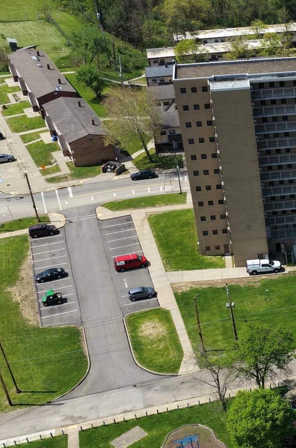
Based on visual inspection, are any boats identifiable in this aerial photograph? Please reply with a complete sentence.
No, the frame has no boat in it.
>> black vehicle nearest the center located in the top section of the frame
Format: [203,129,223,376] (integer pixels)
[129,168,156,181]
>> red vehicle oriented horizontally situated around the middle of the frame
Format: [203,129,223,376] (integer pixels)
[110,252,150,271]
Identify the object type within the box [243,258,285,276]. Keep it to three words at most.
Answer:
vehicle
